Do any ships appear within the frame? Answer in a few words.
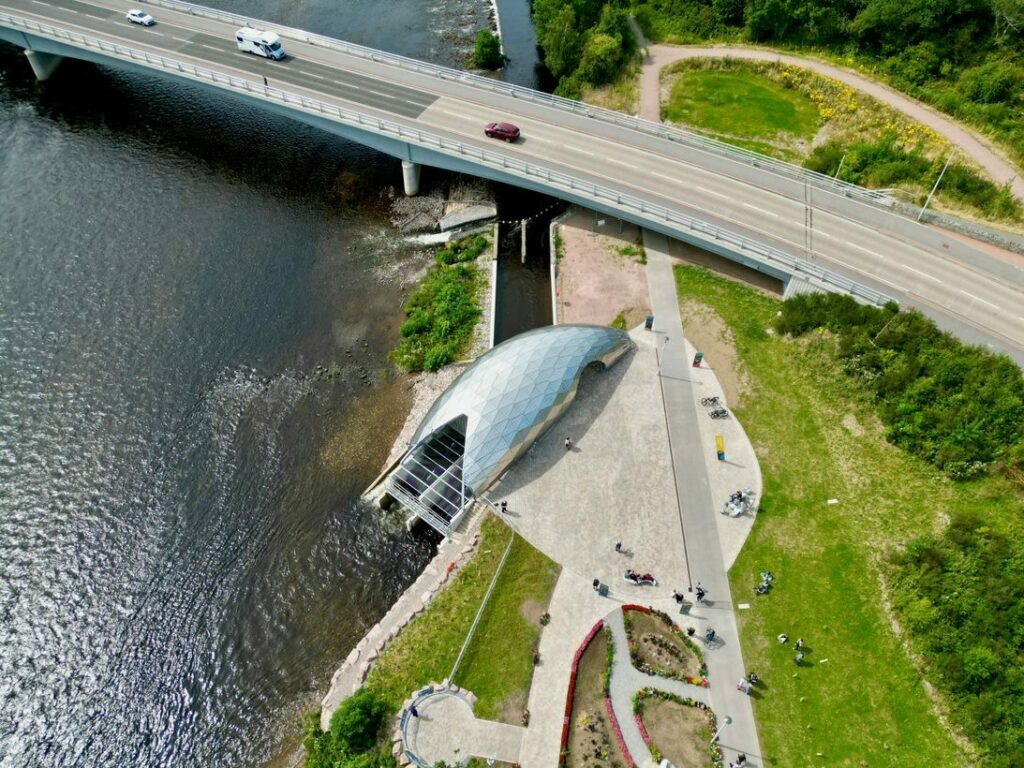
No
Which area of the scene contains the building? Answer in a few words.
center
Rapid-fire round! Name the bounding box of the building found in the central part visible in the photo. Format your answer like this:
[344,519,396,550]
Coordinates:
[381,326,628,551]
